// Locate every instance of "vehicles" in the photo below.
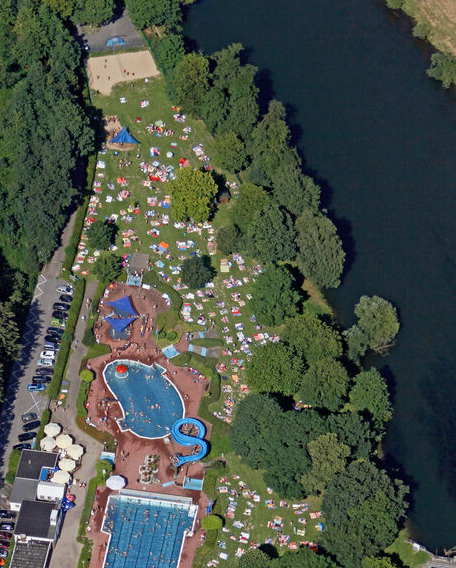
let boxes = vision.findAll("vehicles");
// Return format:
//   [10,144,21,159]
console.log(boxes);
[36,358,55,367]
[13,441,32,451]
[22,412,37,422]
[17,431,37,442]
[0,521,15,530]
[44,334,62,343]
[40,350,56,358]
[33,375,52,383]
[22,420,41,431]
[44,341,60,350]
[0,509,15,518]
[59,294,73,302]
[56,285,74,295]
[47,327,64,335]
[53,301,72,311]
[52,310,68,319]
[35,367,55,376]
[29,383,44,391]
[0,547,9,557]
[0,531,12,540]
